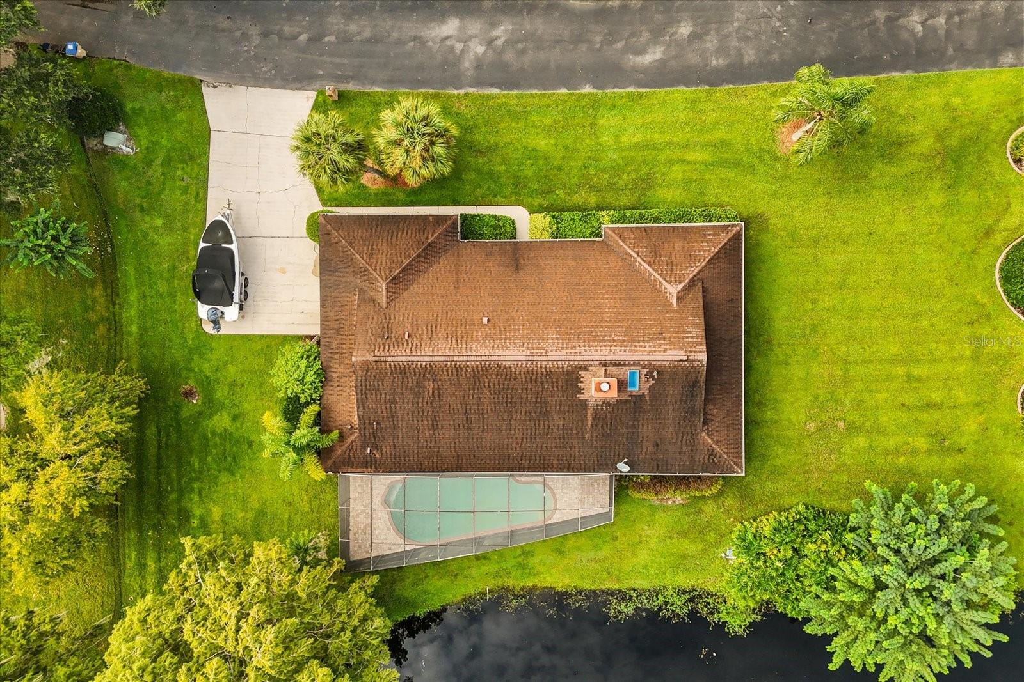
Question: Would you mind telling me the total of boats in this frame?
1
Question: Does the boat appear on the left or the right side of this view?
left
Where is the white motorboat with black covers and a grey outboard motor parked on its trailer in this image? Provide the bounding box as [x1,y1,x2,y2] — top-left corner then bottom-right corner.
[191,214,246,333]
